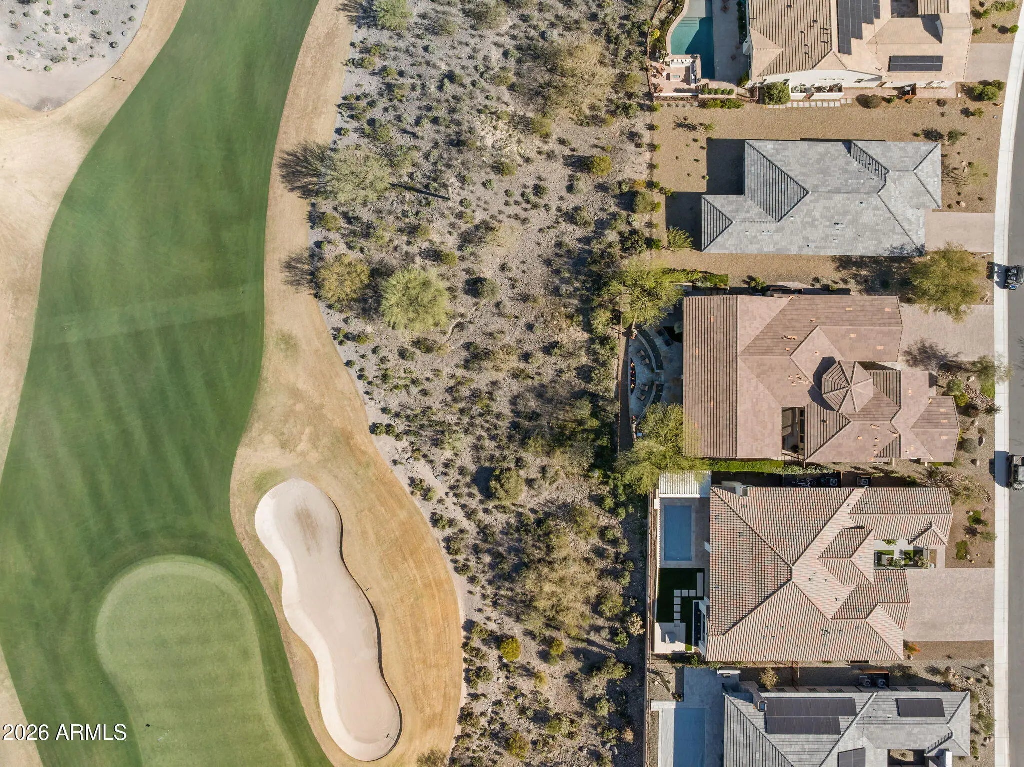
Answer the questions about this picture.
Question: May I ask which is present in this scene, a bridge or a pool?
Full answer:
Looking from above, you can make out a pool.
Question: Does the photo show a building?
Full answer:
Yes, a building appears in the view.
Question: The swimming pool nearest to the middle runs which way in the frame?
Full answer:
What the image shows is the swimming pool nearest to the middle lying from top to bottom.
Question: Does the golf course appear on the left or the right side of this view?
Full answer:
It is on the left.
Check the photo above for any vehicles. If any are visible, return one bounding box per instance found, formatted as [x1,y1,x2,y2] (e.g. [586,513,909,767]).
[1009,456,1024,493]
[1006,266,1024,292]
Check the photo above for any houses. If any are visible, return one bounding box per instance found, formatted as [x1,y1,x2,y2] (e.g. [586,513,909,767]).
[741,0,979,90]
[682,294,962,468]
[724,679,971,767]
[703,479,955,662]
[699,138,944,257]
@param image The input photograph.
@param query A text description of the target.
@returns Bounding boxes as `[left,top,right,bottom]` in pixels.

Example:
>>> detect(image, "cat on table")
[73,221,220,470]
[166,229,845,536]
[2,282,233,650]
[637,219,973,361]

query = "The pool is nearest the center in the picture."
[665,506,692,561]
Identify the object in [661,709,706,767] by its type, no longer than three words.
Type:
swimming pool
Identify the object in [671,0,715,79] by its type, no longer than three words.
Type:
swimming pool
